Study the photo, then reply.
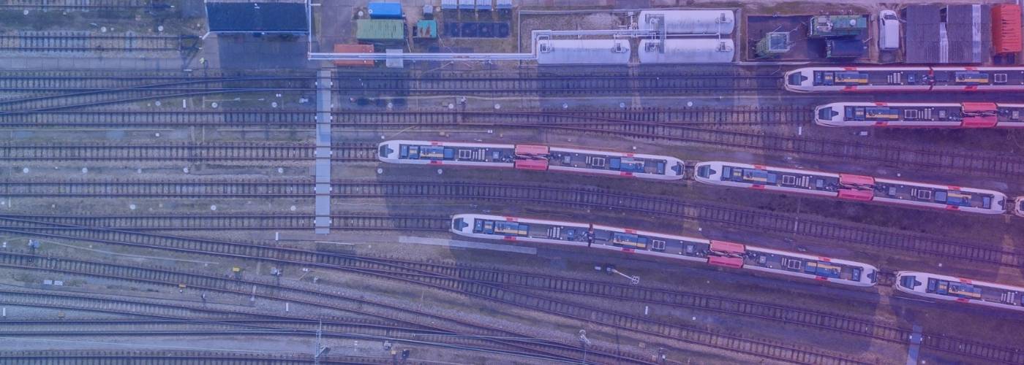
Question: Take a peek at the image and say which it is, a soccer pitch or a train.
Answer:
train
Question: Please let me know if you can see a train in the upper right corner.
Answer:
Yes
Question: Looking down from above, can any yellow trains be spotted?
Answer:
No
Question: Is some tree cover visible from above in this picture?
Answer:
No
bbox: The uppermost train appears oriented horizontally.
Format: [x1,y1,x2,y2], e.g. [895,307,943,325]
[778,67,1024,94]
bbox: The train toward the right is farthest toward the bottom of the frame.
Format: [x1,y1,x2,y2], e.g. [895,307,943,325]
[892,271,1024,313]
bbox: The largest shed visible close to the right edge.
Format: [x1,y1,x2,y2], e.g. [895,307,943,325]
[897,4,991,65]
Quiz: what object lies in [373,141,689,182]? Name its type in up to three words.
train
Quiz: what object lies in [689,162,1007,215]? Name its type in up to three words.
train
